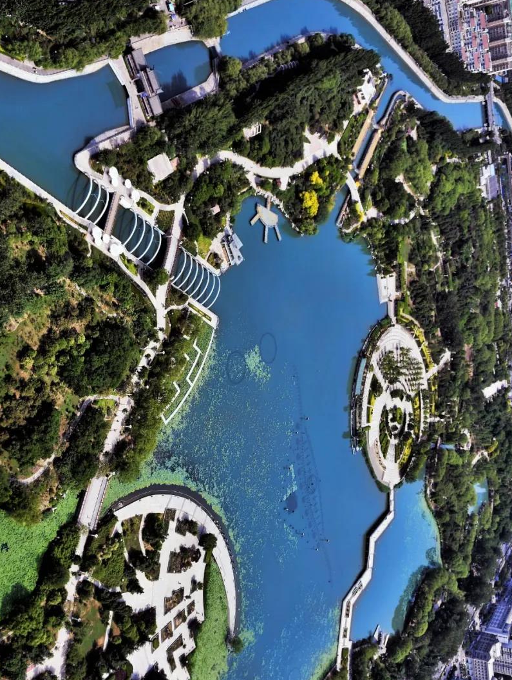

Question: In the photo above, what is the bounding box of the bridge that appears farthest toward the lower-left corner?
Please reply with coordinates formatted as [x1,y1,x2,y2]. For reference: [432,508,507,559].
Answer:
[78,468,111,530]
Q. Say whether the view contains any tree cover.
Yes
